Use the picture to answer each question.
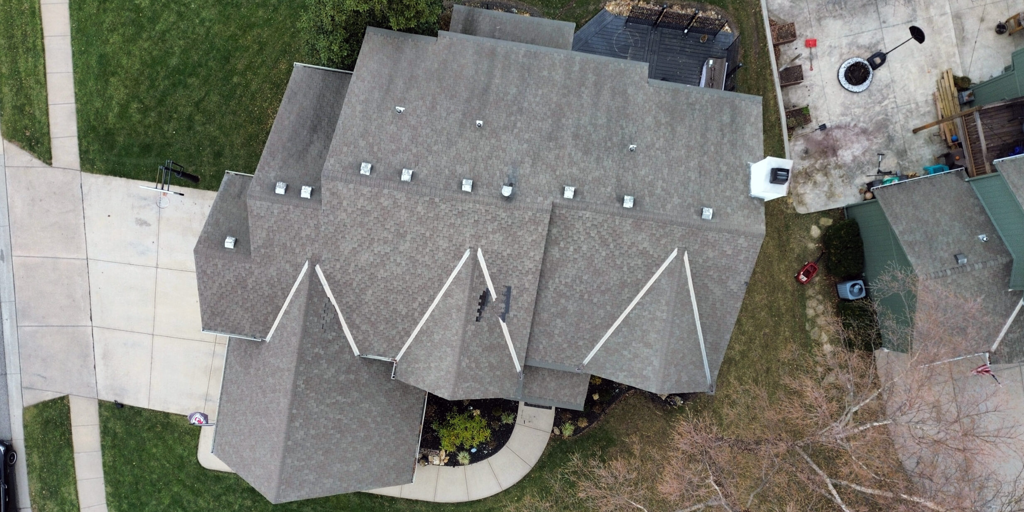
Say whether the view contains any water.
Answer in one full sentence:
No, the picture contains no water.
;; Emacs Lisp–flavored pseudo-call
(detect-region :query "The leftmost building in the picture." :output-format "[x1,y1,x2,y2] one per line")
[194,3,795,504]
